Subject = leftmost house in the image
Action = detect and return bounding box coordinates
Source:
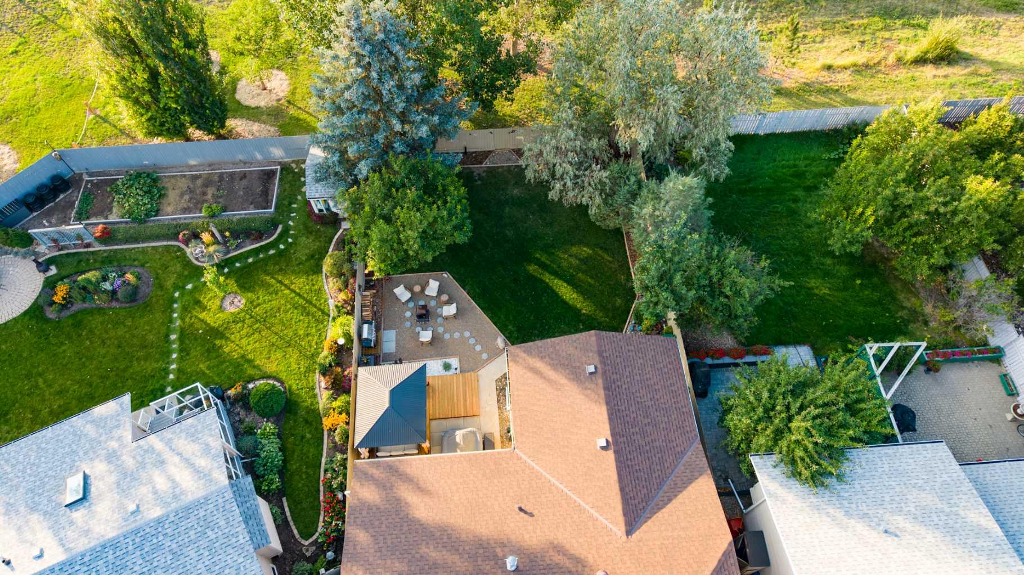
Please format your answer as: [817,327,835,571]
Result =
[0,390,294,575]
